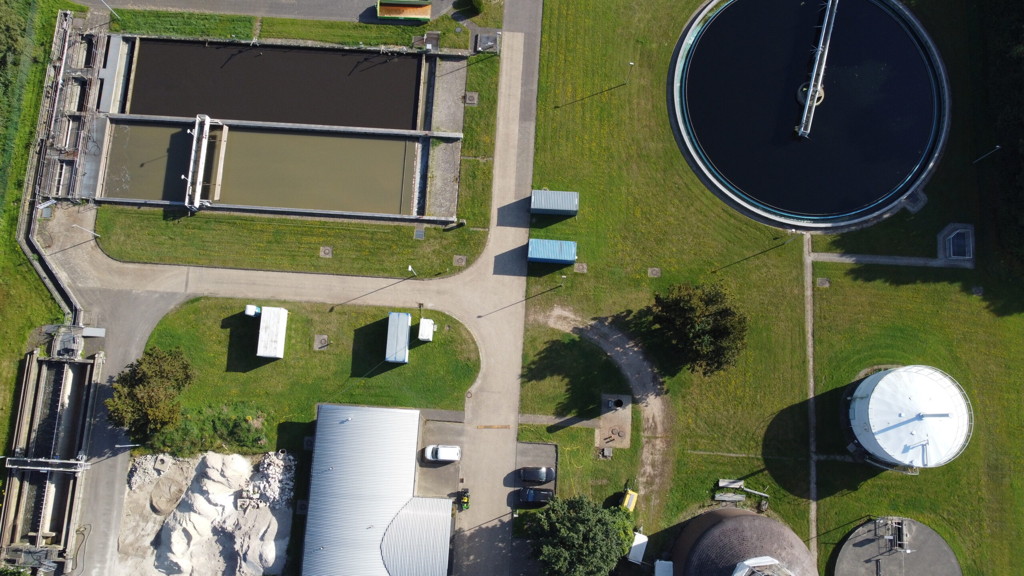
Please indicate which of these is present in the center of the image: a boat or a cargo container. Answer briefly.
cargo container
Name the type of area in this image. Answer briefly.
industrial area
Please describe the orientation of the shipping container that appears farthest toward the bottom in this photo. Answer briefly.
horizontally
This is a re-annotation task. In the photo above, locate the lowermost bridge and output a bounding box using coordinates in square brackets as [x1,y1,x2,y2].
[6,447,90,472]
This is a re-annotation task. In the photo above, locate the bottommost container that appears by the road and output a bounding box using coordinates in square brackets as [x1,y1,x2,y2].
[527,239,577,265]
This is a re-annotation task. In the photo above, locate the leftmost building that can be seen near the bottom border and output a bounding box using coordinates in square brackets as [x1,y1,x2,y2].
[301,403,454,576]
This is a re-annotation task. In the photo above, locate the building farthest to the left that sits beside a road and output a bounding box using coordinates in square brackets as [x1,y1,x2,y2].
[257,307,294,358]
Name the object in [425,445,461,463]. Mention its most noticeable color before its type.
white vehicle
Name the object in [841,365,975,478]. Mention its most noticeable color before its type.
white storage tank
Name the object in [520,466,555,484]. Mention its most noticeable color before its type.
black car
